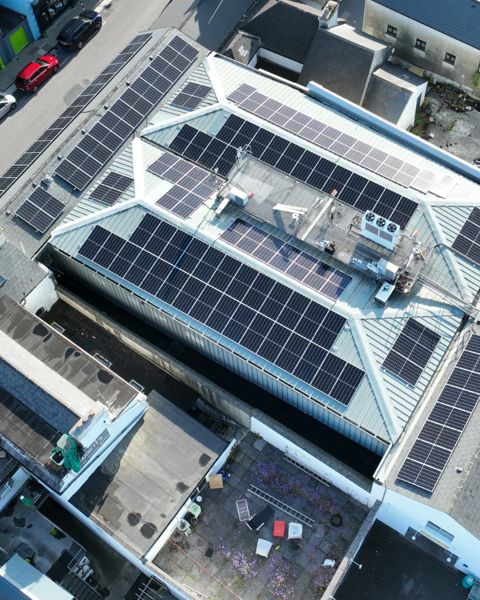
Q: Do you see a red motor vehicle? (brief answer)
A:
Yes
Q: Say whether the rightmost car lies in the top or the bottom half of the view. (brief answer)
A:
top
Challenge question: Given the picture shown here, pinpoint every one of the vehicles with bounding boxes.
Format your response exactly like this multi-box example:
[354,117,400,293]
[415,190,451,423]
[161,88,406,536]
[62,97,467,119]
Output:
[52,10,103,55]
[0,94,16,122]
[11,56,62,98]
